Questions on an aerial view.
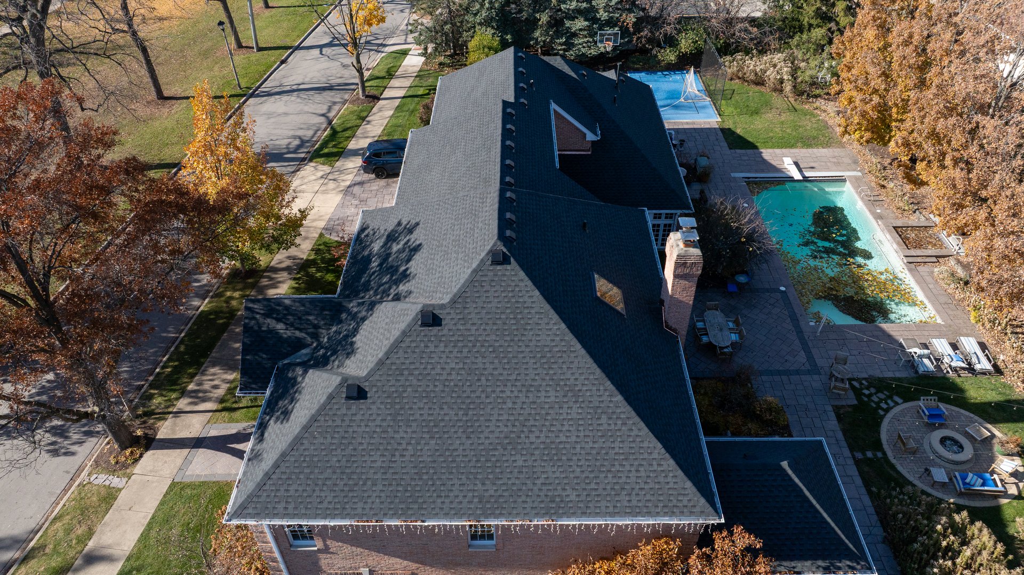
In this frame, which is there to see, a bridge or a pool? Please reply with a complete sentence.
Looking from above, you can make out a pool.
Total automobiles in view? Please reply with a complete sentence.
The photo contains exactly 1 automobile.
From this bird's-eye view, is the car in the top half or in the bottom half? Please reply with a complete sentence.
The top half of the photo is where the car is.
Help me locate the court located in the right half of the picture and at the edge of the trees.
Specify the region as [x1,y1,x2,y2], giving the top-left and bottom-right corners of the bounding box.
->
[628,70,722,122]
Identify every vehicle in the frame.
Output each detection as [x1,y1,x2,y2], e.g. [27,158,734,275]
[360,133,408,175]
